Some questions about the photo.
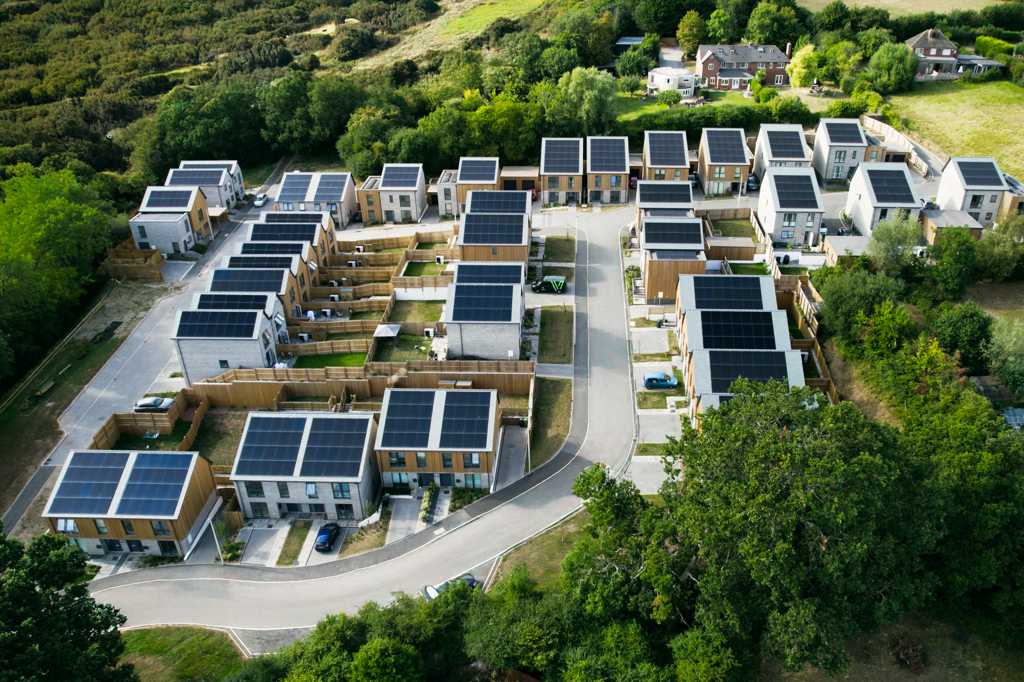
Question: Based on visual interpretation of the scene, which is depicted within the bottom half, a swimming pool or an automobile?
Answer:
automobile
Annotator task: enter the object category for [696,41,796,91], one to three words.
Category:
house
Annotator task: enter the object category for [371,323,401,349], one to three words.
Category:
gazebo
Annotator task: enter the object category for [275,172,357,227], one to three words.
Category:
house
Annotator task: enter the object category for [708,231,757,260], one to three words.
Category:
shed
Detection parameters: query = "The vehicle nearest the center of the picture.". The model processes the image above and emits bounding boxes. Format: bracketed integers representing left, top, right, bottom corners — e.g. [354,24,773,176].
[532,273,568,291]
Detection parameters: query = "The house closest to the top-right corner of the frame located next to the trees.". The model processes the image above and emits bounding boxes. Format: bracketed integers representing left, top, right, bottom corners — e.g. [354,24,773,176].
[897,25,1002,76]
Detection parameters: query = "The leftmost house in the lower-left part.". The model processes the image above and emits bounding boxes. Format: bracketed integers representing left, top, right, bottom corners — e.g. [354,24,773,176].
[41,448,218,554]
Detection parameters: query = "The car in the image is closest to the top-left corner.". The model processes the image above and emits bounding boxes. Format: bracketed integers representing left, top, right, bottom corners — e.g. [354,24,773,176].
[254,191,269,203]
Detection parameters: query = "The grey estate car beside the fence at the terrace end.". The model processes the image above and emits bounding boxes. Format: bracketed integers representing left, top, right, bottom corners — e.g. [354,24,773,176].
[131,393,175,412]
